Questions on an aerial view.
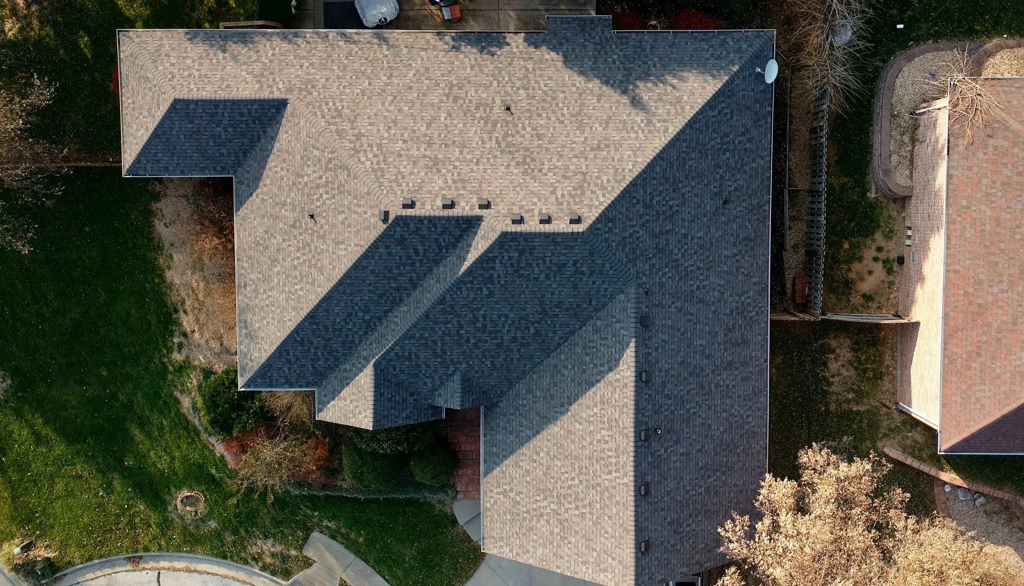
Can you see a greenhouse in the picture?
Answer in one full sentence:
No, the frame has no greenhouse in it.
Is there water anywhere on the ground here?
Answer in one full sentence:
No, water can't be seen anywhere here.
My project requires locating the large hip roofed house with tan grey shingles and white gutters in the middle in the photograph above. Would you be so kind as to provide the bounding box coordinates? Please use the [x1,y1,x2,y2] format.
[117,16,776,586]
